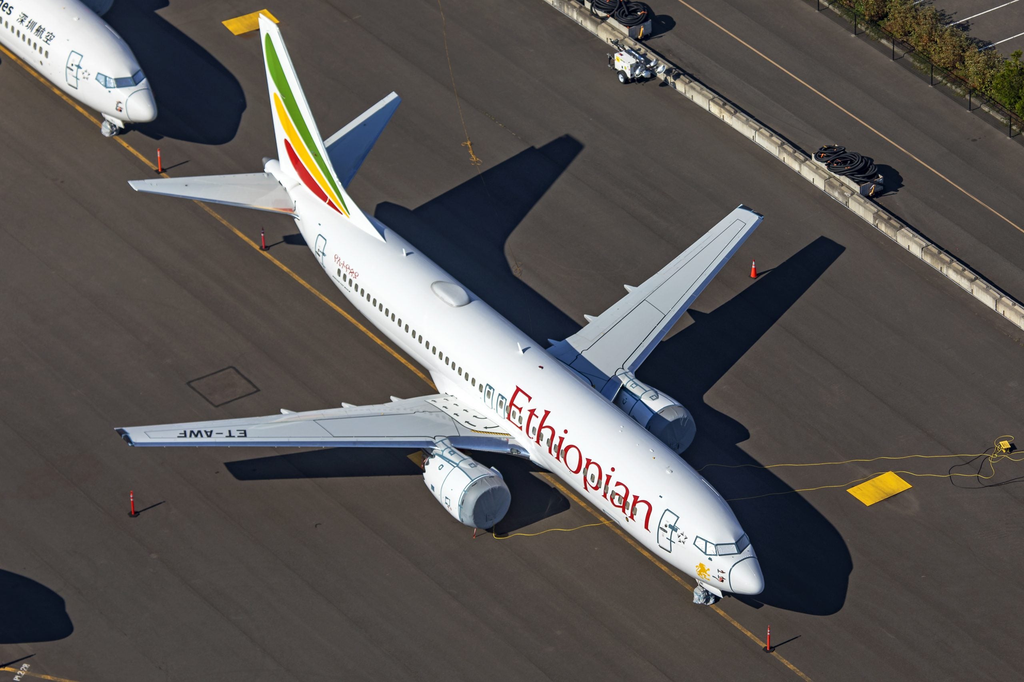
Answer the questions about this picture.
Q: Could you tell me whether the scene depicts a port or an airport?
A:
airport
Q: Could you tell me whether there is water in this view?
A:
No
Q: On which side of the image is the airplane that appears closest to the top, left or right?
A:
left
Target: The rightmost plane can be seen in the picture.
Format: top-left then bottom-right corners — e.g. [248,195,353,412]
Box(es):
[113,15,767,606]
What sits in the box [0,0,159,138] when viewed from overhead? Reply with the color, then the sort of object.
white airplane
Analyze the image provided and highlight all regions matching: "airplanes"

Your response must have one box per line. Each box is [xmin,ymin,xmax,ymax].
[0,0,159,138]
[113,15,767,606]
